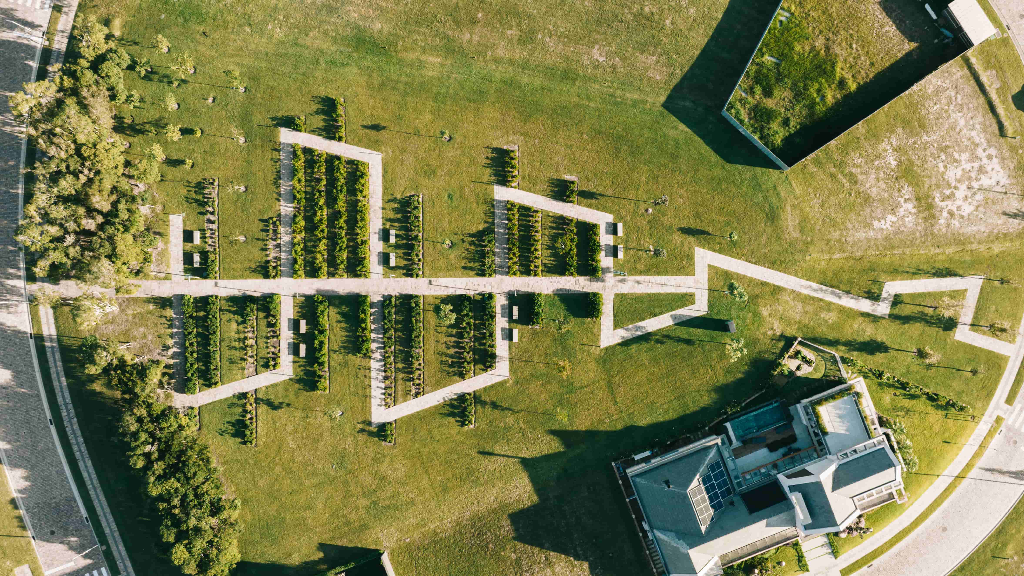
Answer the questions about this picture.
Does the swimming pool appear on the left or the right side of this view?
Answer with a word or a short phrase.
right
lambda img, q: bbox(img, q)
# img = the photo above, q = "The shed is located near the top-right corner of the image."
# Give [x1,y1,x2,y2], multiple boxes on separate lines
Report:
[941,0,996,49]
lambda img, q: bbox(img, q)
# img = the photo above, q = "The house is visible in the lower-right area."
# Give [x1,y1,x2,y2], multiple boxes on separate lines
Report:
[621,376,908,576]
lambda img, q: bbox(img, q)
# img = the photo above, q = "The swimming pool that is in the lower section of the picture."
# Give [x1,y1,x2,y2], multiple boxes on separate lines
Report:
[724,400,787,446]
